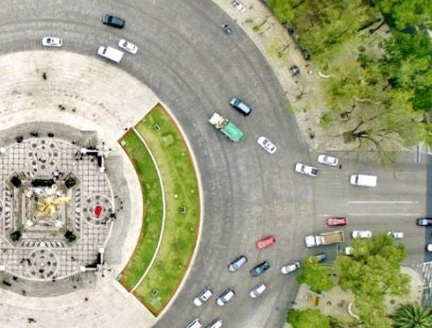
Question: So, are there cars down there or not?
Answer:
Yes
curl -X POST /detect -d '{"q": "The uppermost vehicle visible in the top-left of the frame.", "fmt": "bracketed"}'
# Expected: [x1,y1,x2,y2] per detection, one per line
[102,14,125,27]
